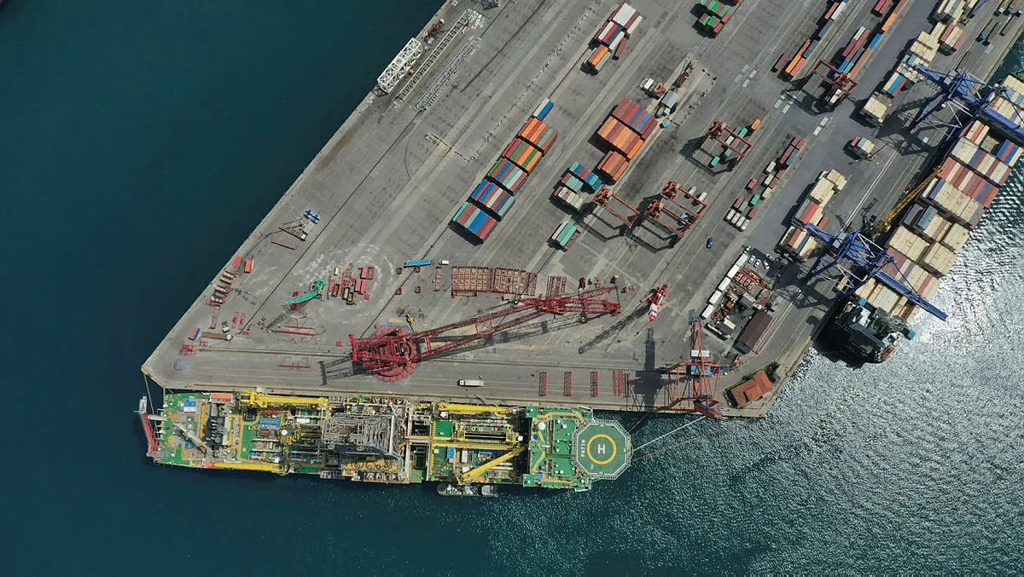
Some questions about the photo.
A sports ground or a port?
port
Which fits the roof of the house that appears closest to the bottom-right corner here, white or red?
red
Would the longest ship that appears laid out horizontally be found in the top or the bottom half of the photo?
bottom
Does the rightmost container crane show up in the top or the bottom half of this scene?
top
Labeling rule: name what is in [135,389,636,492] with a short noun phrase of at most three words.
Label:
ship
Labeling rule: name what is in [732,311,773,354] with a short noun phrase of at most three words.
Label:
building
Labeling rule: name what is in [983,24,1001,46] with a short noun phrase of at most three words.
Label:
vehicle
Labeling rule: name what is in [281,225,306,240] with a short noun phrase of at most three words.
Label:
vehicle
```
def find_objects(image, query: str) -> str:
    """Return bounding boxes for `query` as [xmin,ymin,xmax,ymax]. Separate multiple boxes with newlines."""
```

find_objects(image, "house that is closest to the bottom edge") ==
[725,367,777,408]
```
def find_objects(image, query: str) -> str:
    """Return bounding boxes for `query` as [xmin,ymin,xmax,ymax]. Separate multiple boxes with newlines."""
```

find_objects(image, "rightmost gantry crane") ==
[909,59,1024,145]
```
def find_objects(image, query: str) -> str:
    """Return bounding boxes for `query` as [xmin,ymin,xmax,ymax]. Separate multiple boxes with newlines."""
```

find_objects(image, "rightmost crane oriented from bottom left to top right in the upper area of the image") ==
[862,167,940,240]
